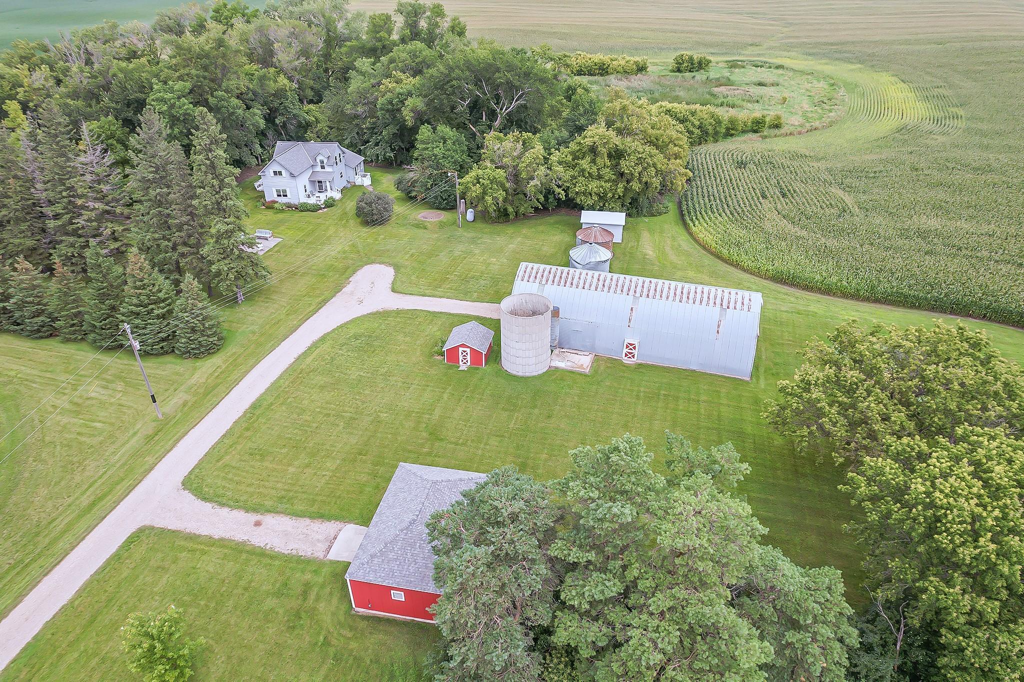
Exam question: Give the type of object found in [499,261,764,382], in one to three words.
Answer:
barn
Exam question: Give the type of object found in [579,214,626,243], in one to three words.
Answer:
shed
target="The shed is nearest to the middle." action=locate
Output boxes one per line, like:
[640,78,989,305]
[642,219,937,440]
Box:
[441,320,496,370]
